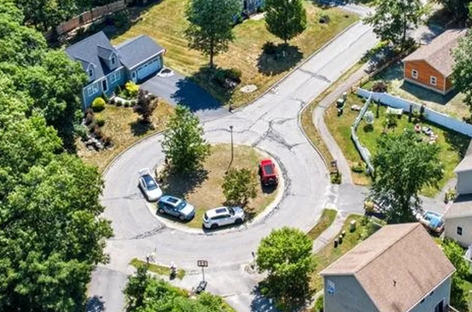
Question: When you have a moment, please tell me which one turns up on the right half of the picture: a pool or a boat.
boat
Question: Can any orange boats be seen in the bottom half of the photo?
No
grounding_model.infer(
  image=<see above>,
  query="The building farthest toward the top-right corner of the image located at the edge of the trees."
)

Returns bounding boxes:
[403,28,472,96]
